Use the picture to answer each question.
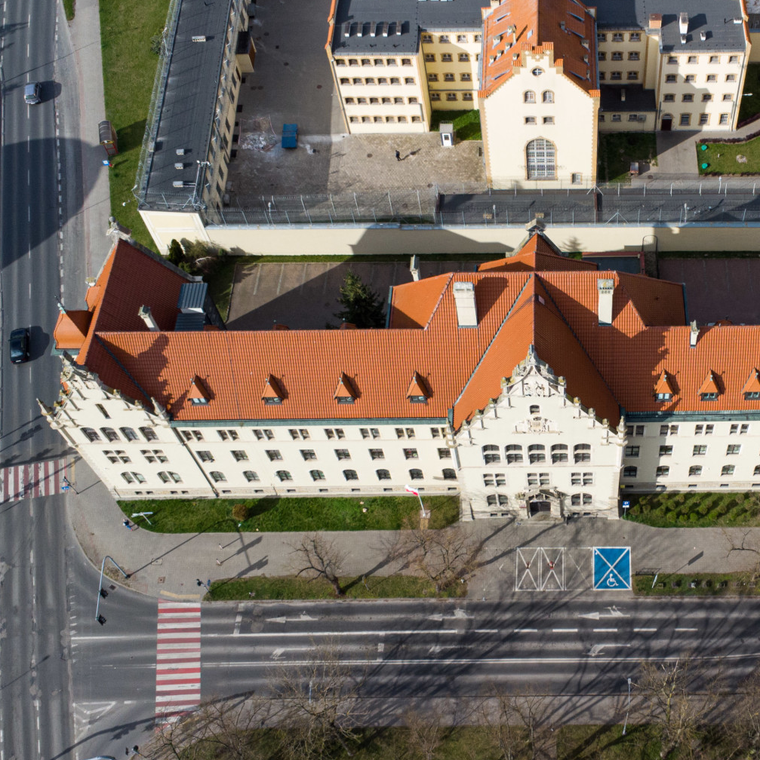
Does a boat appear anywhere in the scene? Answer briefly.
No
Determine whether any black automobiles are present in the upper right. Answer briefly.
No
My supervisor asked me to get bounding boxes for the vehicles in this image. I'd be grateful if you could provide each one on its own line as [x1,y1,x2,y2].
[6,327,29,365]
[20,78,40,102]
